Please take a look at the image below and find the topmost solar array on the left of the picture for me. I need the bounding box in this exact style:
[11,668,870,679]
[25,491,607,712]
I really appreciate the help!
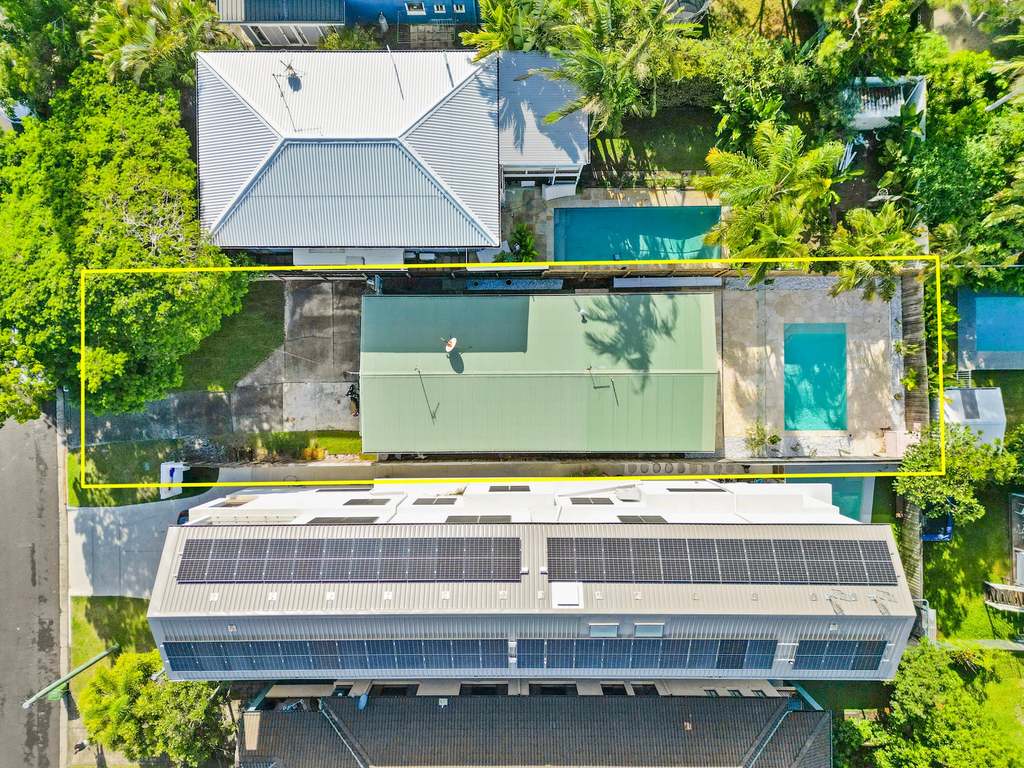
[171,538,521,581]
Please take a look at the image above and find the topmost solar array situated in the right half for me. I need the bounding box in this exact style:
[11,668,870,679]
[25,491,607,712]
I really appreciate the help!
[547,538,902,581]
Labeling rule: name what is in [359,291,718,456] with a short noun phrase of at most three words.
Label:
building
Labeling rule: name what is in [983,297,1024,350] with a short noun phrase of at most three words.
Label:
swimming pool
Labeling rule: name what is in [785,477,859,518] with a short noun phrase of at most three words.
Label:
swimming pool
